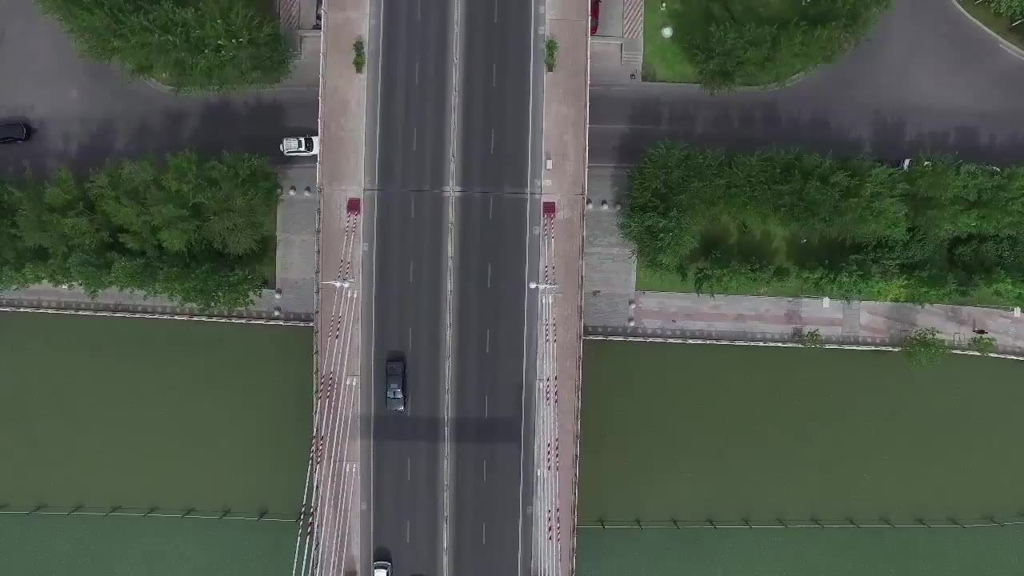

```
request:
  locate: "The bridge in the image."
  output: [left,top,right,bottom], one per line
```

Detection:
[291,0,592,576]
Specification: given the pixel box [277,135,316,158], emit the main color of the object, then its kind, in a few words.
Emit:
white car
